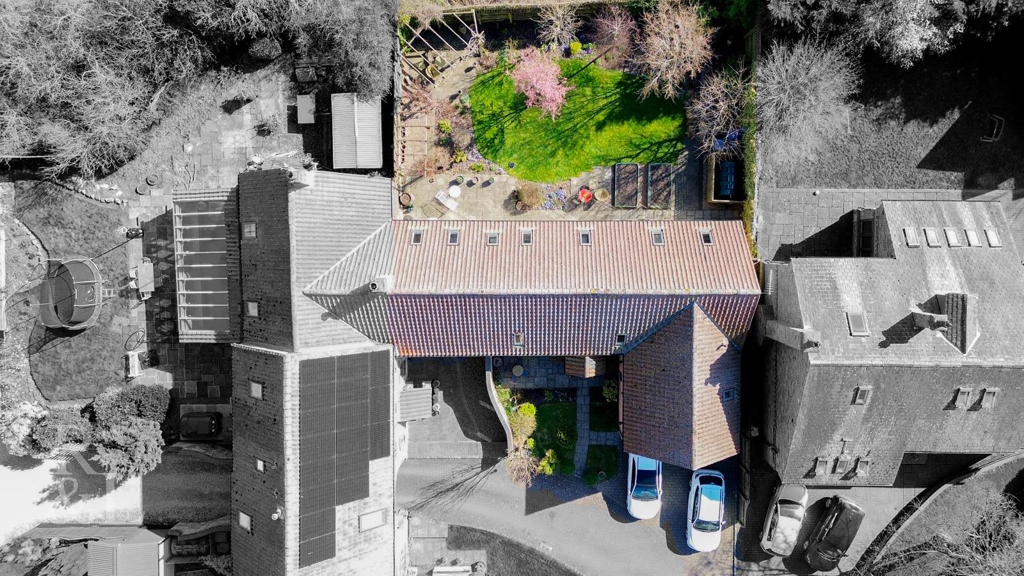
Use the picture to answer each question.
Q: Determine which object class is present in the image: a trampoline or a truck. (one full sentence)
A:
There is a trampoline in the scene.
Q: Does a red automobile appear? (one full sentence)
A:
No, I can't see a single red automobile in this photo.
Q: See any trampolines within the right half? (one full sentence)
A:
No, looking within the right half, there is no trampoline.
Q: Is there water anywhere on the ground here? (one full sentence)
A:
No, water can't be seen anywhere here.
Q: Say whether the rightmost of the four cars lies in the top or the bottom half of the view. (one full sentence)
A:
The rightmost of the four cars sits in the bottom half of the picture.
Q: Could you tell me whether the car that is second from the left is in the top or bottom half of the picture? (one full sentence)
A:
The bottom half of the photo is where the car that is second from the left is.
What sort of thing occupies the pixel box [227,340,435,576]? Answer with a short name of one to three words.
house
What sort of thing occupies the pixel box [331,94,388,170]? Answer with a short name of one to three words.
shed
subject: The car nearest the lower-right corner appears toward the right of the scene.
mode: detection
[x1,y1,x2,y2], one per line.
[804,491,865,571]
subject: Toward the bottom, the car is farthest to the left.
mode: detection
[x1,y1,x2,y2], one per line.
[626,452,666,518]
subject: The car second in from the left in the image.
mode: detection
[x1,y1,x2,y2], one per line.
[685,468,726,550]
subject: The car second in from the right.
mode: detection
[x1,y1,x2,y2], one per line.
[759,482,809,560]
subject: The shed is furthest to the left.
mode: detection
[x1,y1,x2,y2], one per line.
[88,525,185,576]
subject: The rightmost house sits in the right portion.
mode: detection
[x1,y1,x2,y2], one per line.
[747,200,1024,486]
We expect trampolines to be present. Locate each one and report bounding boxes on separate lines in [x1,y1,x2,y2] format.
[30,255,121,336]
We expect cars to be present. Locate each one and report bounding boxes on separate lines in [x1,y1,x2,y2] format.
[804,491,865,571]
[685,468,726,550]
[626,452,666,518]
[759,482,809,560]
